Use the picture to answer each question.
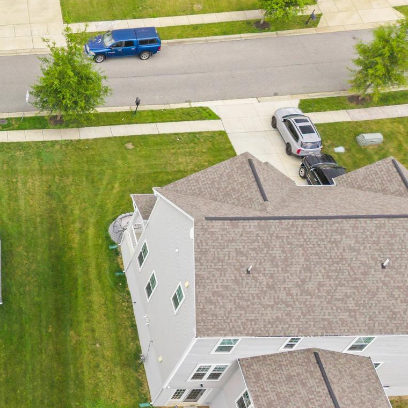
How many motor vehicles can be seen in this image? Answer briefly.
3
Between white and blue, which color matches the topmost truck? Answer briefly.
blue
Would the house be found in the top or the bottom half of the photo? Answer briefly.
bottom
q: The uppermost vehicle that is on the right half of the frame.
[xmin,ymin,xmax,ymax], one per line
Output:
[269,107,324,161]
